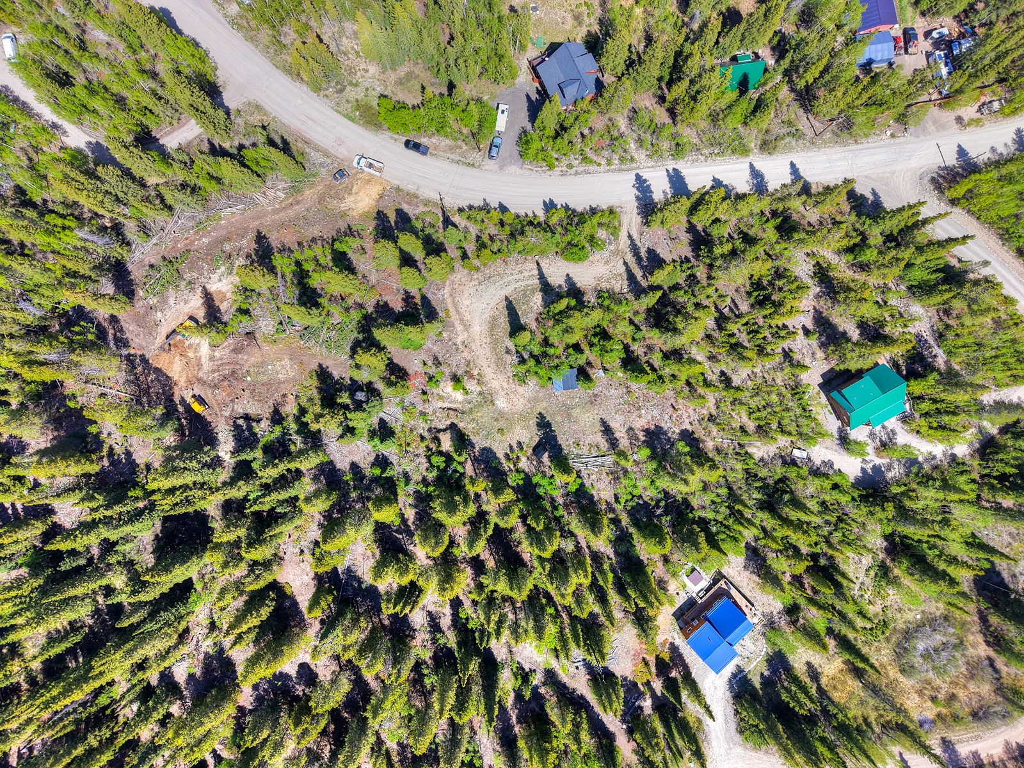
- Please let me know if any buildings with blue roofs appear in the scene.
Yes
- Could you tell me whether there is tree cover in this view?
Yes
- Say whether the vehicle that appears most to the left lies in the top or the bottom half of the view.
top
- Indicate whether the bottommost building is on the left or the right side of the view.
right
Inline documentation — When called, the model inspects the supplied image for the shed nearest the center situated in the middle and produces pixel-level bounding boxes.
[552,368,578,392]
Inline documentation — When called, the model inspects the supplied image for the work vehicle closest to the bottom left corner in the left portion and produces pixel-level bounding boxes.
[184,390,208,414]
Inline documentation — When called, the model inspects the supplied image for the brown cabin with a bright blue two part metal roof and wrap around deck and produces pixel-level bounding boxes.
[678,577,766,675]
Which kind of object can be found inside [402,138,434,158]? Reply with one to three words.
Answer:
vehicle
